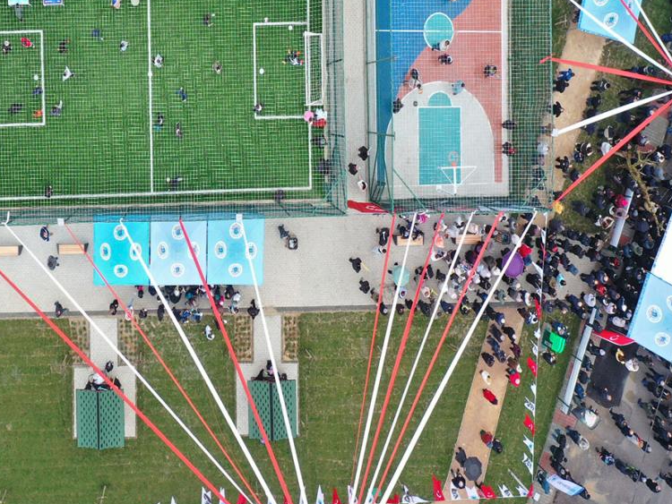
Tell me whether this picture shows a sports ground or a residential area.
sports ground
